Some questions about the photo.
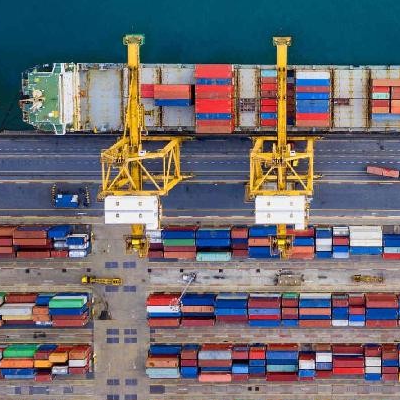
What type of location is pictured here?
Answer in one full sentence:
The picture captures a port.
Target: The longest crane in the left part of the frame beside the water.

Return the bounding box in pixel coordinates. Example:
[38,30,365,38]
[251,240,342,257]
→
[98,31,194,262]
